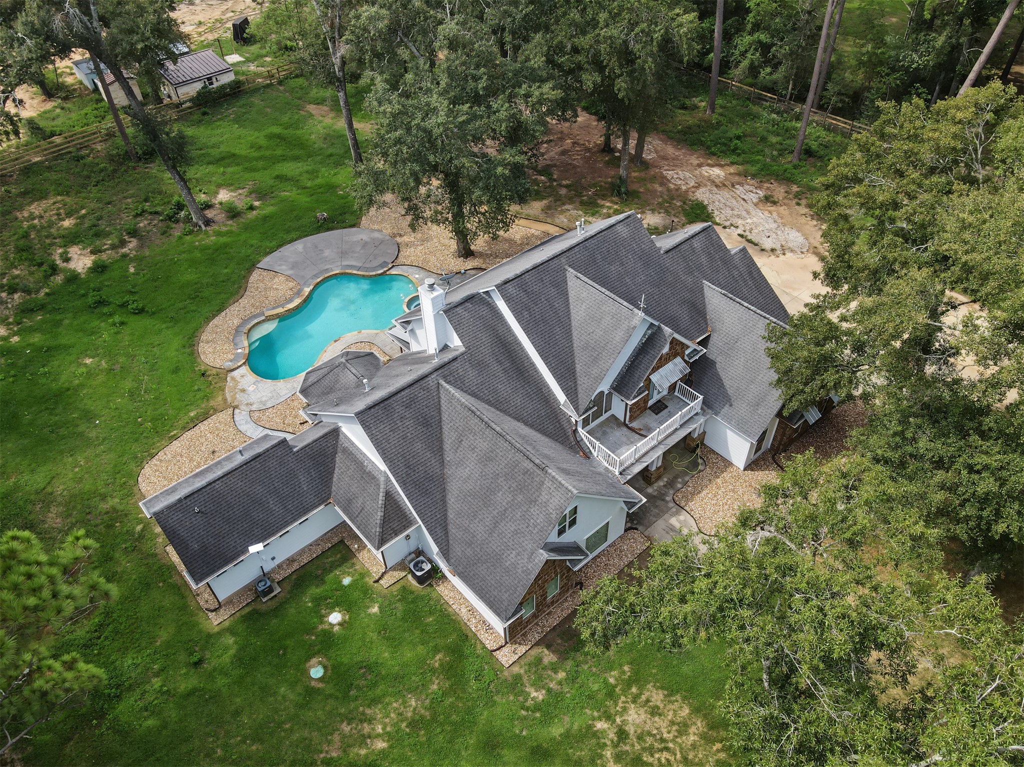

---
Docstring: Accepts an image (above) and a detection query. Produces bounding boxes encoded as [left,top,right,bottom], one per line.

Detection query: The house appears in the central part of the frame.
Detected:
[136,209,844,652]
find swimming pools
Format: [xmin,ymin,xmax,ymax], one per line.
[225,262,419,393]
